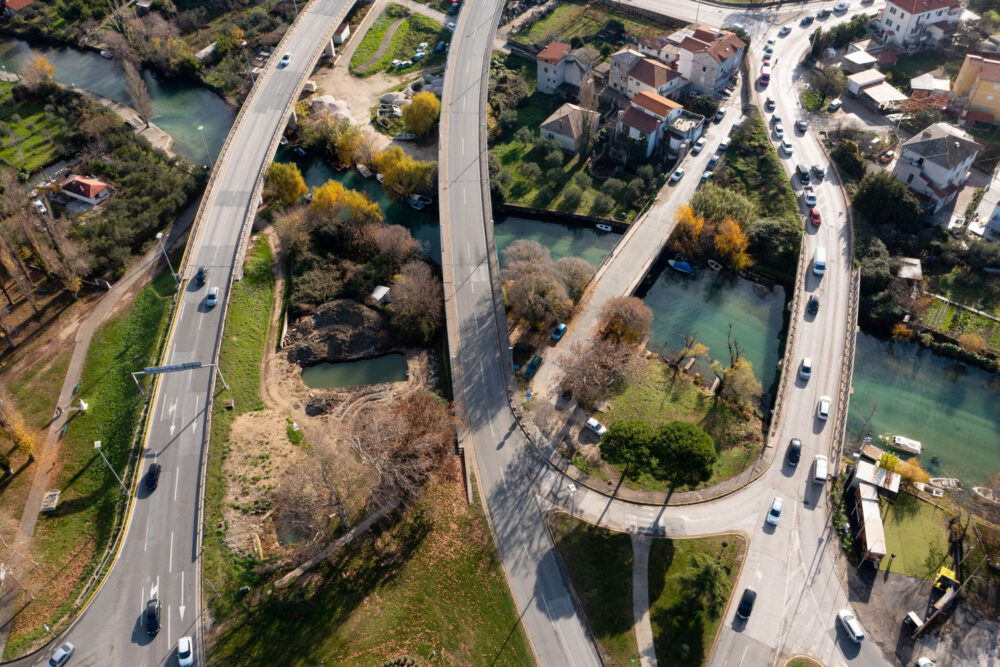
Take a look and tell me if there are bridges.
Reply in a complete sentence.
Yes, the image includes a bridge.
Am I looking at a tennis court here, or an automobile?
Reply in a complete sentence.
Visible in the photo is an automobile.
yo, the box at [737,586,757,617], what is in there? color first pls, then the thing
black car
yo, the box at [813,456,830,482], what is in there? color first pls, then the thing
white vehicle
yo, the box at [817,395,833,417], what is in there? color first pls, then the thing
white car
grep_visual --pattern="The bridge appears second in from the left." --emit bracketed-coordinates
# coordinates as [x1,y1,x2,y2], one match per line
[437,0,521,430]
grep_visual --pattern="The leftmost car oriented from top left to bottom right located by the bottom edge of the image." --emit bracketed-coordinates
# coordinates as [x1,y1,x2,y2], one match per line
[836,606,869,644]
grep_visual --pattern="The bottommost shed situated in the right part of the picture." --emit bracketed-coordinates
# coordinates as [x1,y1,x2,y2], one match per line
[846,483,888,566]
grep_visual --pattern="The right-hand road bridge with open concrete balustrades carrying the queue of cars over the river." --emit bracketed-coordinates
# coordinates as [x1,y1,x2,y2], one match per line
[769,234,860,475]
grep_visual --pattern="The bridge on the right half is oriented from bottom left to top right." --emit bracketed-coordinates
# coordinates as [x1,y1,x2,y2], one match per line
[586,202,687,305]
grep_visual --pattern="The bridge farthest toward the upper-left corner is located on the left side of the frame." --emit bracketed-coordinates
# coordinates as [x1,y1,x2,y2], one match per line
[165,0,360,329]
